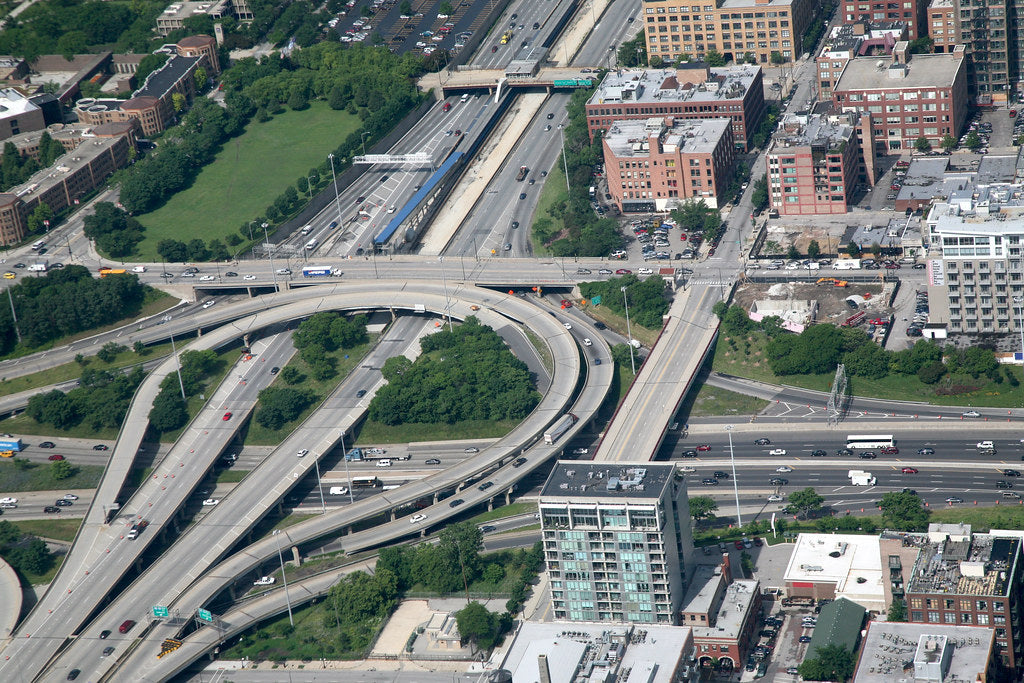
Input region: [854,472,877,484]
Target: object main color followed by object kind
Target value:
white vehicle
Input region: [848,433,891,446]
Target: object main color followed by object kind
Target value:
white vehicle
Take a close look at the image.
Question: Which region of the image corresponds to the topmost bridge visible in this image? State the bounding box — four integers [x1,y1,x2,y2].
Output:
[430,64,614,96]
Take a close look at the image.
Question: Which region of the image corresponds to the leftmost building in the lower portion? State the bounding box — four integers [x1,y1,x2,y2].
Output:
[427,613,474,655]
